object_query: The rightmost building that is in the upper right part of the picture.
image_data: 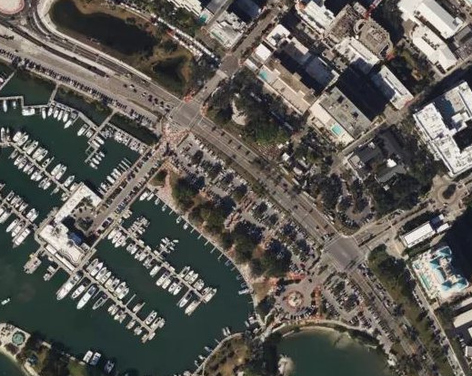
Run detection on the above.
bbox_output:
[454,24,472,61]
